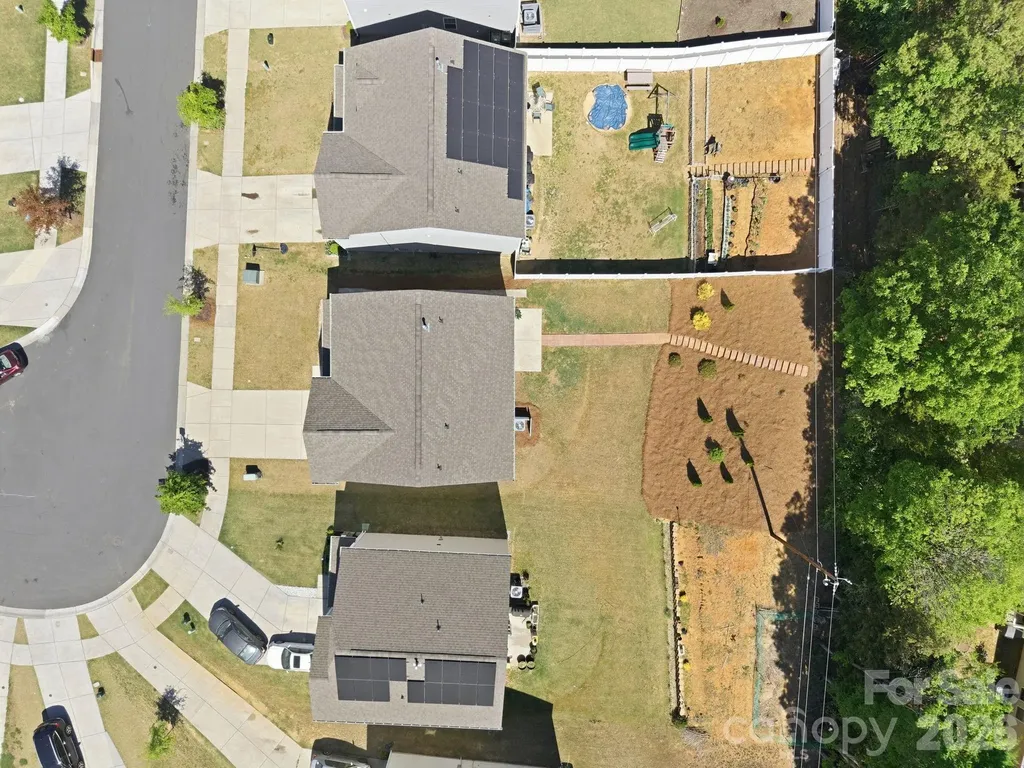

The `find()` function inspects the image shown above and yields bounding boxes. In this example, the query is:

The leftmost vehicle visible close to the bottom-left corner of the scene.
[28,720,84,768]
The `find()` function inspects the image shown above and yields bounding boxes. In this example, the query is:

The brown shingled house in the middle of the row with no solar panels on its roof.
[301,290,516,487]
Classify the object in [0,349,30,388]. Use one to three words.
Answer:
car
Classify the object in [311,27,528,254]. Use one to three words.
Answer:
house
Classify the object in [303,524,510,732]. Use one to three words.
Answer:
house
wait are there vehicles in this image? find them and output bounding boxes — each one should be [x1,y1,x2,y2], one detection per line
[312,750,385,768]
[207,599,269,667]
[267,639,309,675]
[28,720,84,768]
[0,349,30,388]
